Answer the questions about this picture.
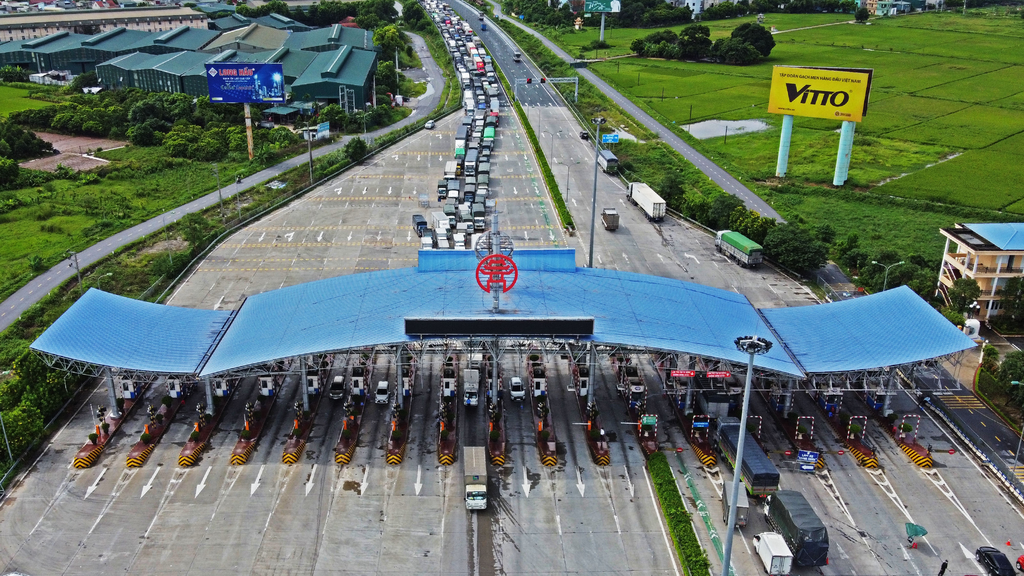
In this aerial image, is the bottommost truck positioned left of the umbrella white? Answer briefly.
Yes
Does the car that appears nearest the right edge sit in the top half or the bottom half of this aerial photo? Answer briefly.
bottom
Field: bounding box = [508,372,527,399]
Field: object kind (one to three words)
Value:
car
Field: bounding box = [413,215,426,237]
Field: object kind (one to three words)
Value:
vehicle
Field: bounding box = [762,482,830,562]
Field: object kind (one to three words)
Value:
truck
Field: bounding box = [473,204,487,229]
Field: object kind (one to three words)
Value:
vehicle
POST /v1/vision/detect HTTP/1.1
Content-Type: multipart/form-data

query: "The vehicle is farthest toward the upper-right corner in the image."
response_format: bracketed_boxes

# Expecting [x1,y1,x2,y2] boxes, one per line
[712,231,761,265]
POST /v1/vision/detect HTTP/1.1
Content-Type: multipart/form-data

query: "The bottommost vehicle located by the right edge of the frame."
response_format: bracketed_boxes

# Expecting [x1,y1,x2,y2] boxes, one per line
[975,537,1024,574]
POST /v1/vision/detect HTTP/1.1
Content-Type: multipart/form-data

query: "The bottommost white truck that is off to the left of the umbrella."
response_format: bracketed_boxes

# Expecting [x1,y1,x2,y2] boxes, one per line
[751,523,795,571]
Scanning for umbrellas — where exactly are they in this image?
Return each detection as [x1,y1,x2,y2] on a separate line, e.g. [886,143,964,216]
[901,516,929,538]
